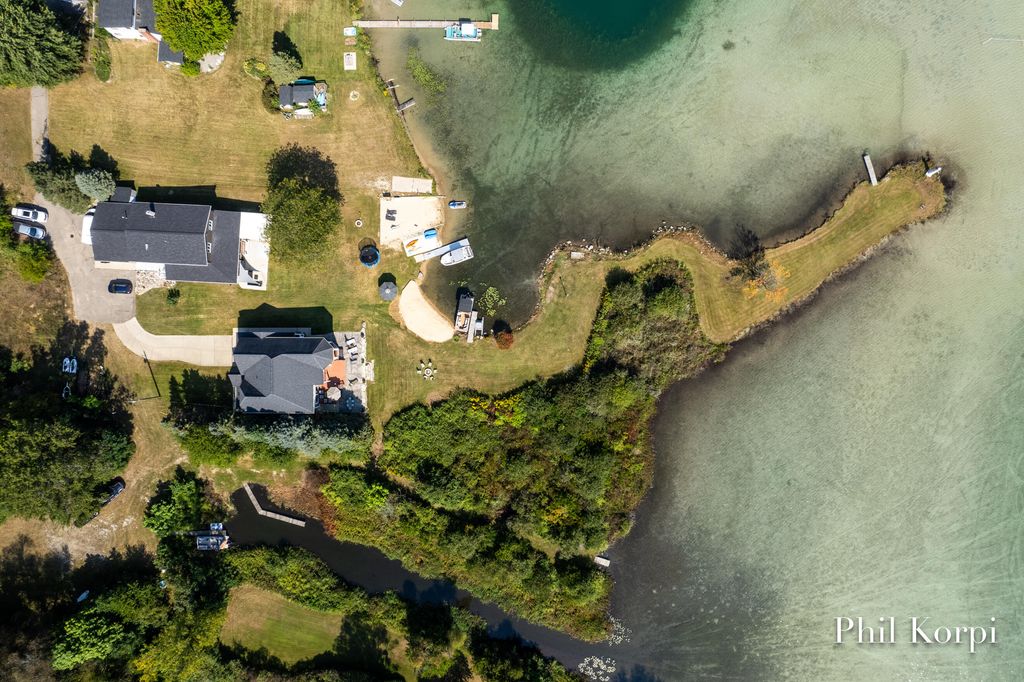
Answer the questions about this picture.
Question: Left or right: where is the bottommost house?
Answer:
left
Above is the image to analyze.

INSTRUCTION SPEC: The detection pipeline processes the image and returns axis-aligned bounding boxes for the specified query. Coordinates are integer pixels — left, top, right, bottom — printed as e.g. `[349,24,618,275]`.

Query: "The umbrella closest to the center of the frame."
[380,282,397,300]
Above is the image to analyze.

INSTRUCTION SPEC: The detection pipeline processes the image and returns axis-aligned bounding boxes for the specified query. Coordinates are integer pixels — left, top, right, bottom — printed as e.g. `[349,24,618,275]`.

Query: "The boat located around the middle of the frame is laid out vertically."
[454,294,475,336]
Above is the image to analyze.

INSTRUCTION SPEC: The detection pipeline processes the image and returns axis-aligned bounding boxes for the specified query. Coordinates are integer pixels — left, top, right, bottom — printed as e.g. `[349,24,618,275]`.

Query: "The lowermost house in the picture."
[228,328,341,414]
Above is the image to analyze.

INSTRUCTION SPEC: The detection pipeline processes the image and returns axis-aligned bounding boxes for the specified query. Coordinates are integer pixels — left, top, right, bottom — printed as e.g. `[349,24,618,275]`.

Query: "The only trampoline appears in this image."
[357,244,380,266]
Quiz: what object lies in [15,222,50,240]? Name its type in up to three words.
car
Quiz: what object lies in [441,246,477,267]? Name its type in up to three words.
boat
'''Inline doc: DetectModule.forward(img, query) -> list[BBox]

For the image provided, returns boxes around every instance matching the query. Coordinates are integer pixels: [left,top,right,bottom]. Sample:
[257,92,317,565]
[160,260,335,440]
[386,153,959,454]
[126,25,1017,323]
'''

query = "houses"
[228,328,341,414]
[91,187,244,283]
[97,0,188,66]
